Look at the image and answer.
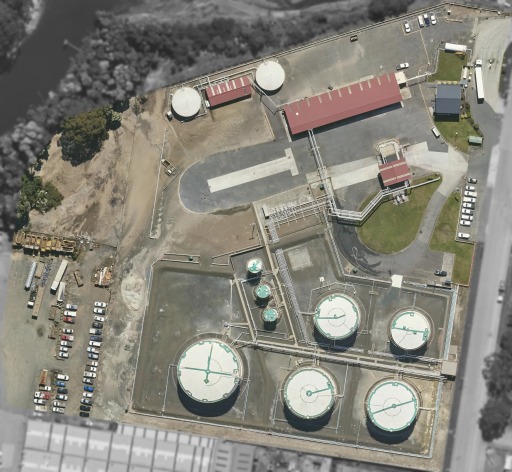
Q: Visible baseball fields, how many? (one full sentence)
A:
There are no baseball fields in this view.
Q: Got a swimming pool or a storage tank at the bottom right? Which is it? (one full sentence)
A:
The feature located at the bottom right is a storage tank.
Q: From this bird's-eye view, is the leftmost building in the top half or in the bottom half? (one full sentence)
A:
The bottom half of the photo is where the leftmost building is.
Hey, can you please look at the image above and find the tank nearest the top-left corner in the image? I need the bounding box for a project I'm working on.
[172,86,202,118]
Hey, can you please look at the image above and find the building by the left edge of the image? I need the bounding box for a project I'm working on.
[21,419,113,472]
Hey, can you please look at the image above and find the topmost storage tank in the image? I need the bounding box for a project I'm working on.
[256,61,286,92]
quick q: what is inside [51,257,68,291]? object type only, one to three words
vehicle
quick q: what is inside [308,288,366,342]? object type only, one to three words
storage tank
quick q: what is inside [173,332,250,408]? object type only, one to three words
storage tank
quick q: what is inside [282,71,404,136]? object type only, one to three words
shed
